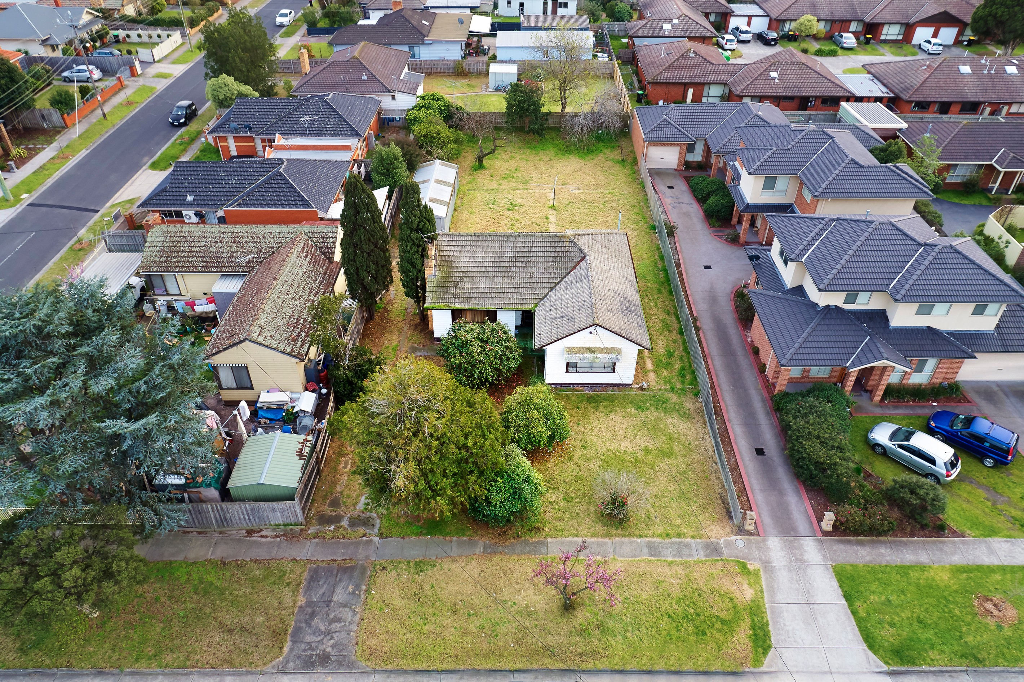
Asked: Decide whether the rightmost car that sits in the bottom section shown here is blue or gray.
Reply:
blue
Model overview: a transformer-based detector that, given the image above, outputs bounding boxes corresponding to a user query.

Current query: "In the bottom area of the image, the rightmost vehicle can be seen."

[923,411,1024,470]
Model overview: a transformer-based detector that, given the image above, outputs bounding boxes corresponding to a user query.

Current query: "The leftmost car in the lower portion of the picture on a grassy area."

[867,425,964,486]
